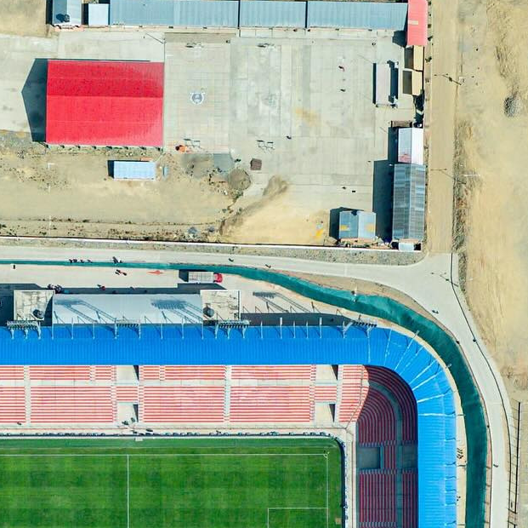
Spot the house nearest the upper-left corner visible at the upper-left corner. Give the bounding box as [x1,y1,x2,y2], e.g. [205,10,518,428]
[53,0,81,32]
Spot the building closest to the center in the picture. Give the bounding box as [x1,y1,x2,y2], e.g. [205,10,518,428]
[338,210,376,243]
